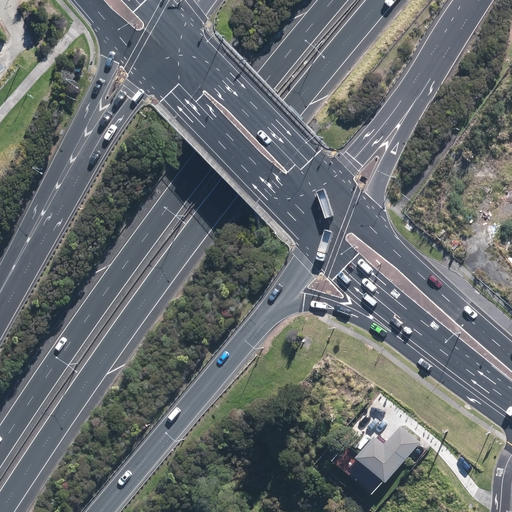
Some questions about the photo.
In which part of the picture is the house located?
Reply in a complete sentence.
Look in the bottom right portion of the view to spot the house.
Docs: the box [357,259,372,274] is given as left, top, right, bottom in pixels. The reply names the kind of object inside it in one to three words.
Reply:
vehicle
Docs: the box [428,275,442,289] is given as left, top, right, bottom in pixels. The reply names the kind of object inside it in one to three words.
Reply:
car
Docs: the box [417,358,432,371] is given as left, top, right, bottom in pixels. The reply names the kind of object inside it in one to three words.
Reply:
vehicle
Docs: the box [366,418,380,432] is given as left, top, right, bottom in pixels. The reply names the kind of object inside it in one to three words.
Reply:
car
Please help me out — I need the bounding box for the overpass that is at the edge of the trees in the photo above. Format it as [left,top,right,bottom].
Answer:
[150,30,325,244]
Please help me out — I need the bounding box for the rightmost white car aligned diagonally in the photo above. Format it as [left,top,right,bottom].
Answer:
[462,305,478,320]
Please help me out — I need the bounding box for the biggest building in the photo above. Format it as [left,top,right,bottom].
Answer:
[347,426,421,494]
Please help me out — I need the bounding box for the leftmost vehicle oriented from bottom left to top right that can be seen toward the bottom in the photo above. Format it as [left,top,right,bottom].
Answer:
[54,336,68,352]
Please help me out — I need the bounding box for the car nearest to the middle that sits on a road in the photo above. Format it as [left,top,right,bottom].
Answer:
[270,284,282,300]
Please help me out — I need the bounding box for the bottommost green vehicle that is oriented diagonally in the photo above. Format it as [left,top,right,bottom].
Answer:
[370,322,387,336]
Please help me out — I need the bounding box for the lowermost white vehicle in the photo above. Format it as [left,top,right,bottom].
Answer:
[118,471,131,486]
